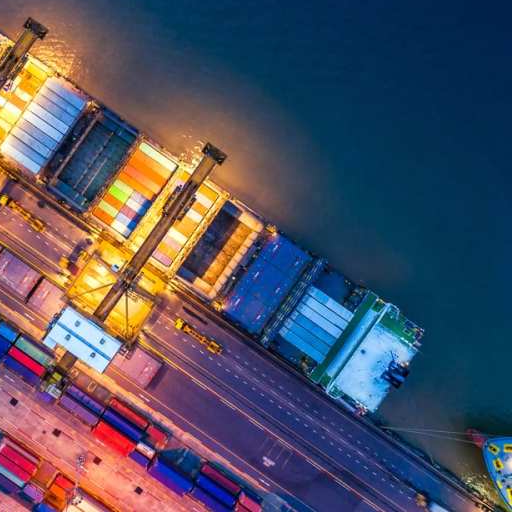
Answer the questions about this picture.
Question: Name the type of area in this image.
port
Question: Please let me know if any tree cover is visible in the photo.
No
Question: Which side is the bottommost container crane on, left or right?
left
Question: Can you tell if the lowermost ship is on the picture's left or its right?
right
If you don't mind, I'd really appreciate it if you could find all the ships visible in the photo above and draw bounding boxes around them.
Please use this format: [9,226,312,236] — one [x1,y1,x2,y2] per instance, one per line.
[0,34,424,410]
[453,429,512,510]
